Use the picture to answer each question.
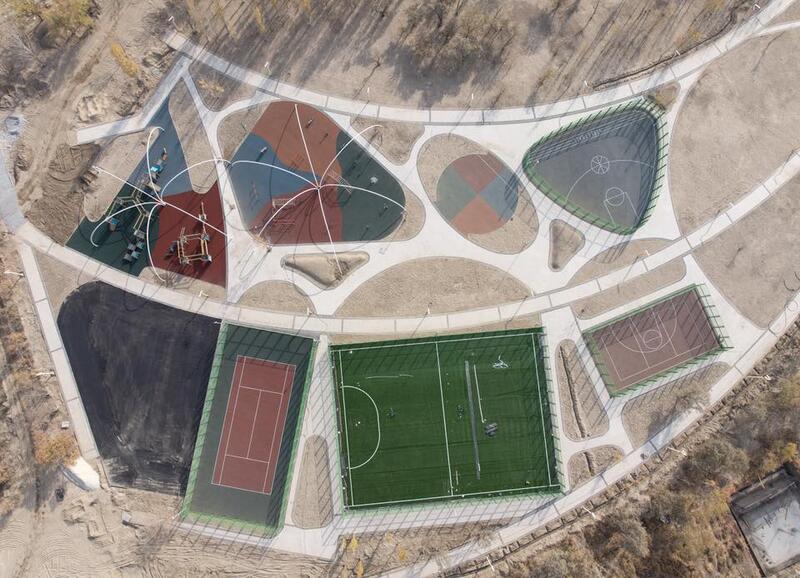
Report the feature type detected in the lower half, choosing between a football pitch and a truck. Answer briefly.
football pitch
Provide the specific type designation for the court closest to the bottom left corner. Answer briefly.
tennis court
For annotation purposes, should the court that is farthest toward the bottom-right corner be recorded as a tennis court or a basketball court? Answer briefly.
basketball court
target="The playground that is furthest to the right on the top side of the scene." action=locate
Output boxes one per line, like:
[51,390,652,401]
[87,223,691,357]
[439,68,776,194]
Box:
[438,154,518,234]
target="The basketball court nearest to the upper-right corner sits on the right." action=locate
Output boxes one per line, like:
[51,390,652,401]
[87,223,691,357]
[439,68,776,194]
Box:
[523,108,659,234]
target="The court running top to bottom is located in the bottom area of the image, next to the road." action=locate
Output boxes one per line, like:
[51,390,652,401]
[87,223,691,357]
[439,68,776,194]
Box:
[191,324,317,527]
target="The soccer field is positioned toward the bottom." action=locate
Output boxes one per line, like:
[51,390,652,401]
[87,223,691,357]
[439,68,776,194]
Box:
[330,326,561,509]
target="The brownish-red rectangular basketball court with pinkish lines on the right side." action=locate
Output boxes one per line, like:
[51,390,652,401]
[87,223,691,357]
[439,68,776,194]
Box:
[583,286,719,394]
